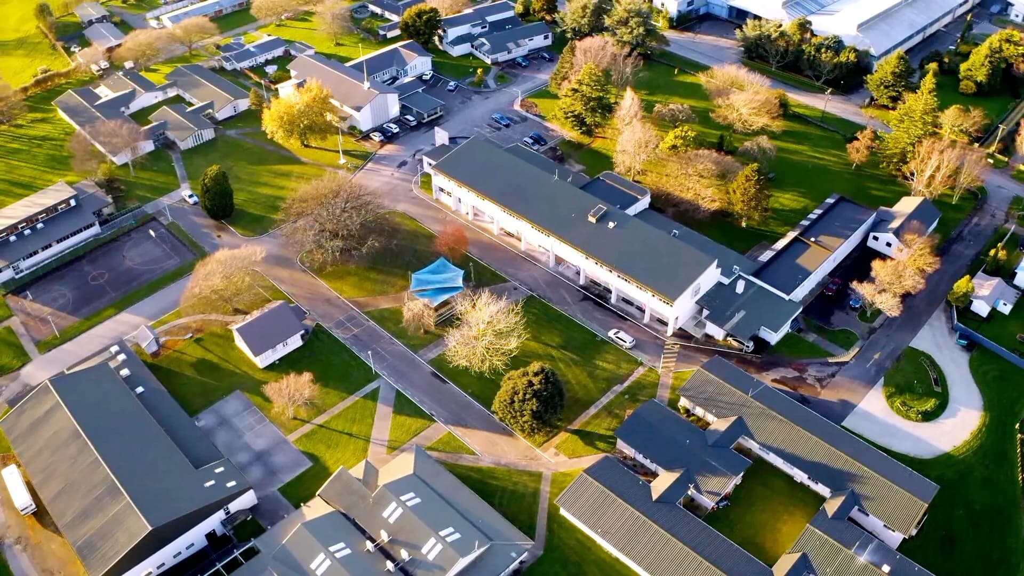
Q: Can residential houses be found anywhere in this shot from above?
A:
Yes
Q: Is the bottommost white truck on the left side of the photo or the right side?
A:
left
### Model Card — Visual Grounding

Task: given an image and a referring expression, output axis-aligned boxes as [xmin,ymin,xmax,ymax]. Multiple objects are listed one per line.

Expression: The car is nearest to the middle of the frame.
[607,328,638,350]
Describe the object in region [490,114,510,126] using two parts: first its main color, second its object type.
blue vehicle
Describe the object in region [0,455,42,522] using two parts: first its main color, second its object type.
white truck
